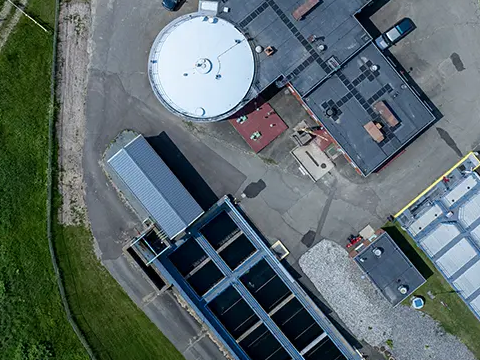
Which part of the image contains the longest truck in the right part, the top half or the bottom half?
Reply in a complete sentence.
The longest truck in the right part sits in the top half of the picture.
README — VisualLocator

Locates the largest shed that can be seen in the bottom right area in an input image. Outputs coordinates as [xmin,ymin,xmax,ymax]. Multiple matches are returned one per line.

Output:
[351,228,427,306]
